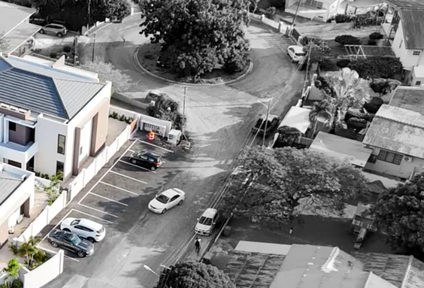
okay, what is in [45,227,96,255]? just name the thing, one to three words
car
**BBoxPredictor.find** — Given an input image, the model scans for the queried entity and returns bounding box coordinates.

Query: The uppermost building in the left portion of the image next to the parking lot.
[0,52,116,176]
